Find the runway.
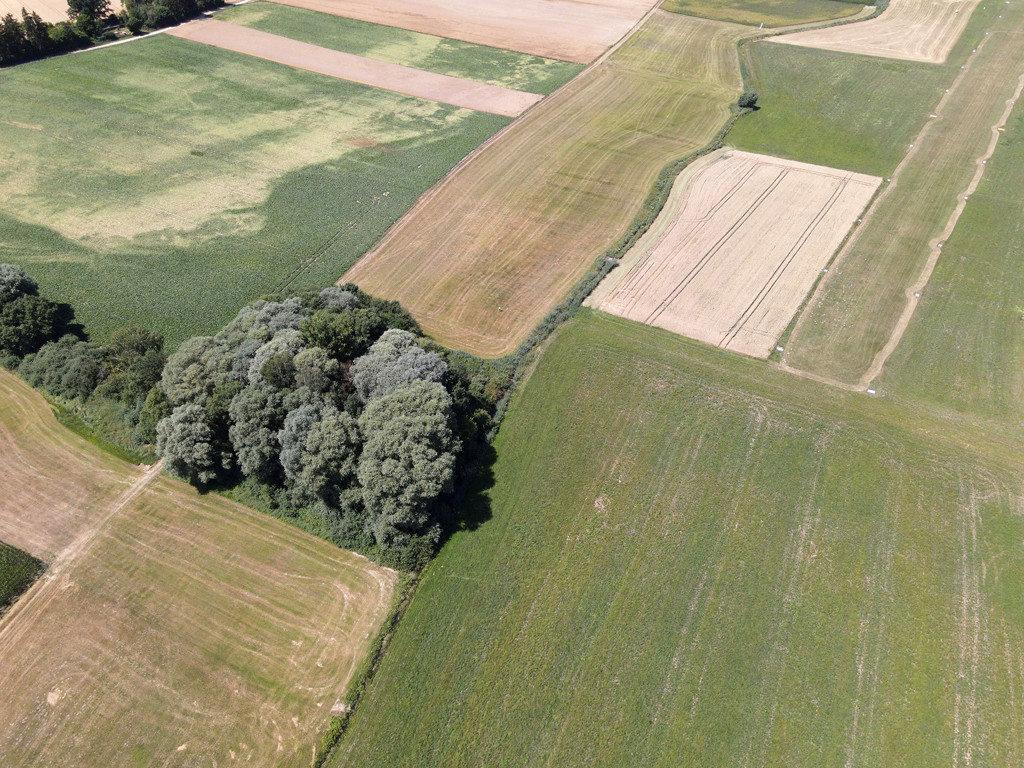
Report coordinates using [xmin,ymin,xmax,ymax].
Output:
[783,0,1024,384]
